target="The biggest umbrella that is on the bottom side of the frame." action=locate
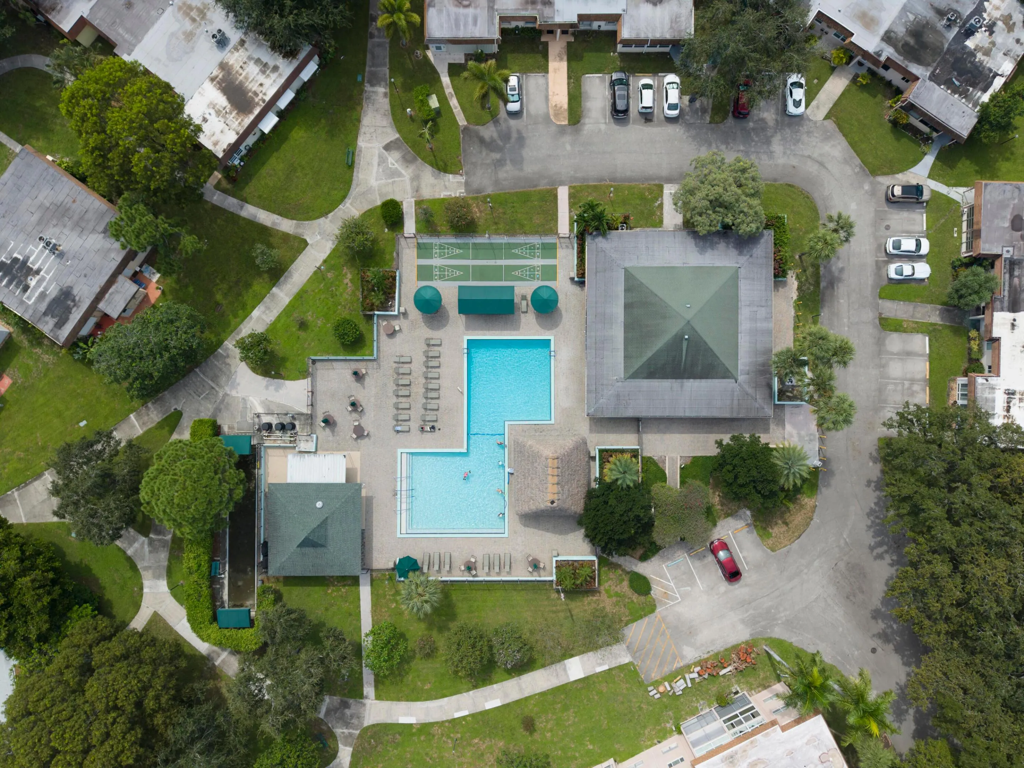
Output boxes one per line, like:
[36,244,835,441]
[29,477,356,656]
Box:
[396,554,420,579]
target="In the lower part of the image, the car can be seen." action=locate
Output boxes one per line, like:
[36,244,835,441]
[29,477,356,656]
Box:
[710,537,740,582]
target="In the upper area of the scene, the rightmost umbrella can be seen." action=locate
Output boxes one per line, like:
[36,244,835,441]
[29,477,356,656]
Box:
[531,286,558,314]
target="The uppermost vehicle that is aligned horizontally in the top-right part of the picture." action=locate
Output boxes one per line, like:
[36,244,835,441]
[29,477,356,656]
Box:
[884,183,929,204]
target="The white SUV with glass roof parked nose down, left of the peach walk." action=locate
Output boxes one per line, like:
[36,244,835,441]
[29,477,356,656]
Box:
[504,74,523,115]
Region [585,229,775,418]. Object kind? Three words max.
building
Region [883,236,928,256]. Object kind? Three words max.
car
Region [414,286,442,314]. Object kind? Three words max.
umbrella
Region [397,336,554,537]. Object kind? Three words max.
swimming pool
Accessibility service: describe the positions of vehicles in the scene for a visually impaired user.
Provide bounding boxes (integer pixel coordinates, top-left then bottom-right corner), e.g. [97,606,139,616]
[731,79,752,120]
[710,537,740,582]
[884,183,929,204]
[504,74,523,115]
[784,75,806,117]
[610,73,630,119]
[883,236,928,256]
[637,78,655,114]
[885,261,928,281]
[662,74,682,119]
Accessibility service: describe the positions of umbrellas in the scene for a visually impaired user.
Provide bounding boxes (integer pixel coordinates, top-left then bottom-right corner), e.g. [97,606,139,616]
[396,554,420,579]
[414,286,442,314]
[531,286,558,314]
